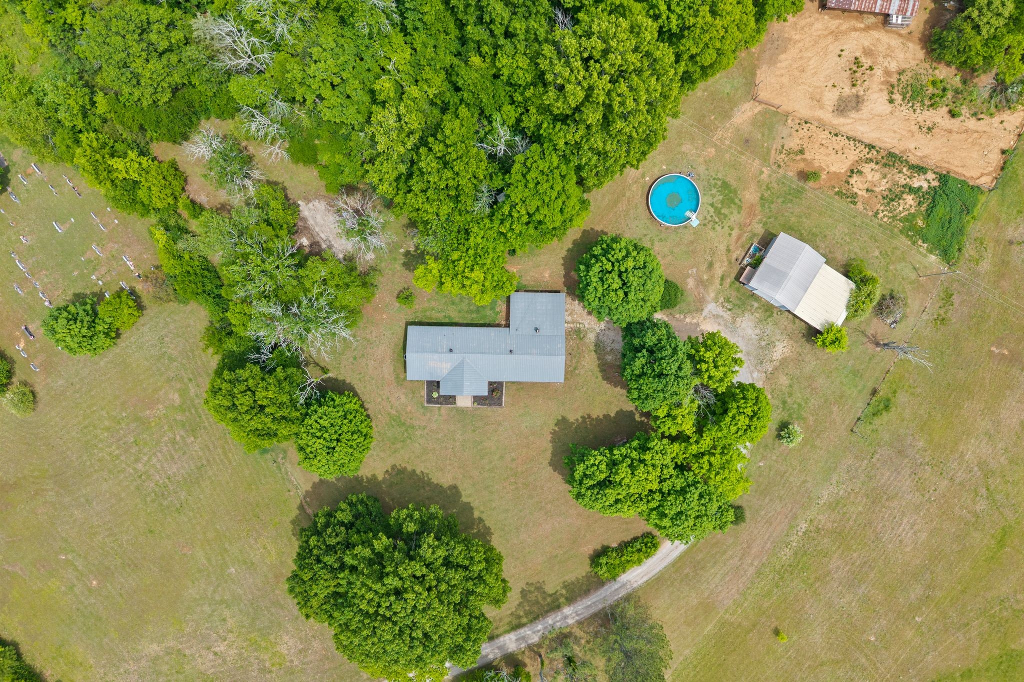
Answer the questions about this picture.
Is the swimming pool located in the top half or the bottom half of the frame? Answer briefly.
top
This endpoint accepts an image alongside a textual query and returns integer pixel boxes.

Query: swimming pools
[647,174,700,227]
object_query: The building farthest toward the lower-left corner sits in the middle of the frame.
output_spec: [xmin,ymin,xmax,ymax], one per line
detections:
[406,293,565,396]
